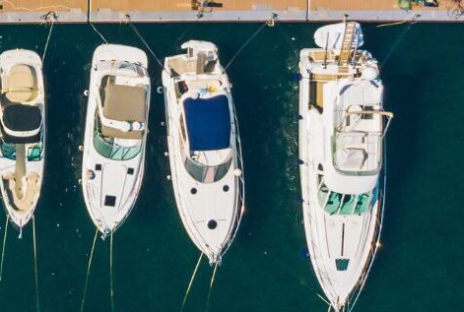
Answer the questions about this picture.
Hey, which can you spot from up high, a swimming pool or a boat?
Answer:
boat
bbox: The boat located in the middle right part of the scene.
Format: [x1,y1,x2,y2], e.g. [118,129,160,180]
[294,41,384,312]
